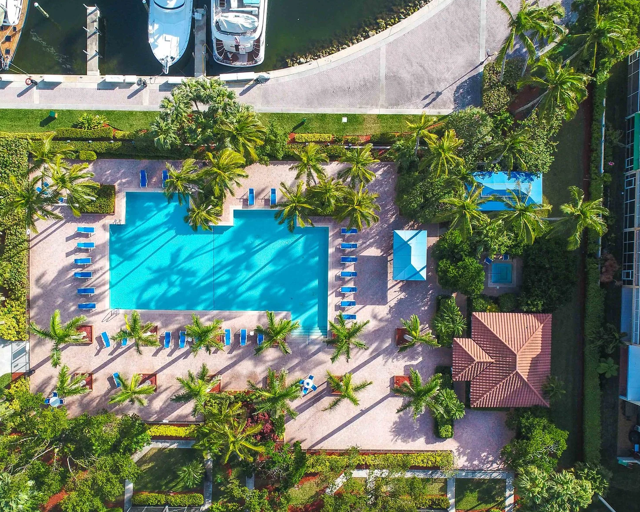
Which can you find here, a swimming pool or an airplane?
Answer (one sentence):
Looking from above, you can make out a swimming pool.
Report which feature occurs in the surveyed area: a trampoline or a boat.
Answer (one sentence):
The one in the frame is a boat.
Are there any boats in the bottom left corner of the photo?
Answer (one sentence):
No, there's no boat to be seen in the bottom left corner of the photo.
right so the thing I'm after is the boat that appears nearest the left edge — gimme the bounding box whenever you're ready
[0,0,31,71]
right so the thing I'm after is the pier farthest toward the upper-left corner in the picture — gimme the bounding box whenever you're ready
[87,6,102,75]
